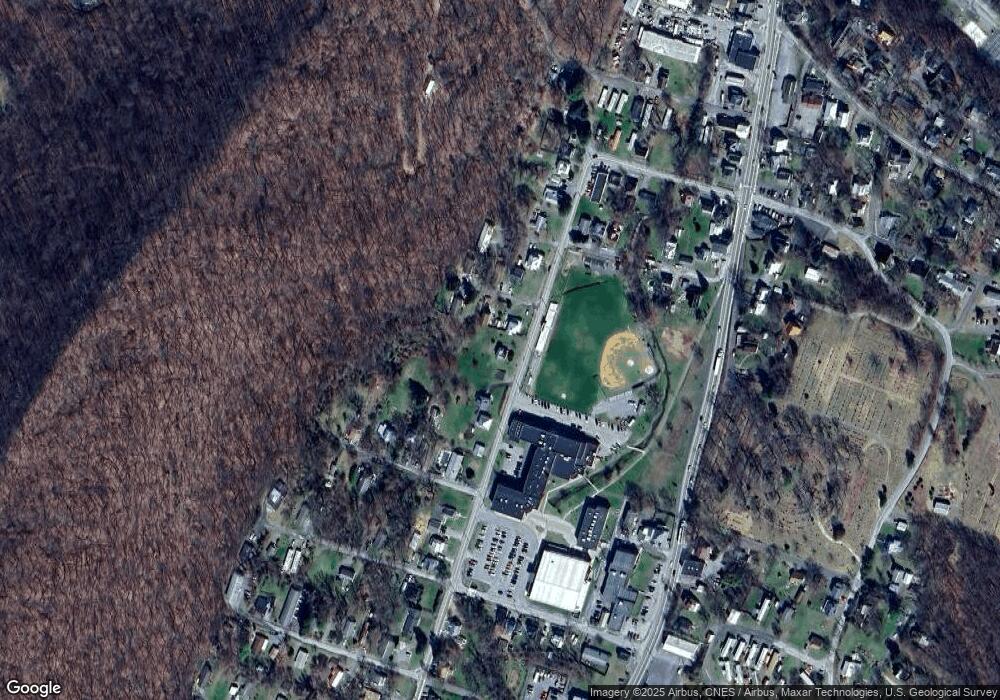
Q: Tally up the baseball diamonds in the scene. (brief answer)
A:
1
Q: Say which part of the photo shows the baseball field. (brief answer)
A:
center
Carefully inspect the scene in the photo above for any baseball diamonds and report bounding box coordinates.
[533,276,657,412]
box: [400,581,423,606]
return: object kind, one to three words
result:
house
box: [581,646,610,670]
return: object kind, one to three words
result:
building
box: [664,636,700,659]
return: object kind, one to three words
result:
building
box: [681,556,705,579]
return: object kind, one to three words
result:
house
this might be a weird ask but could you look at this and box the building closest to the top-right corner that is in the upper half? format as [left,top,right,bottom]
[963,21,987,46]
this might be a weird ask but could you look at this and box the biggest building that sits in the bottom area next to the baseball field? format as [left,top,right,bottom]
[491,421,600,520]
